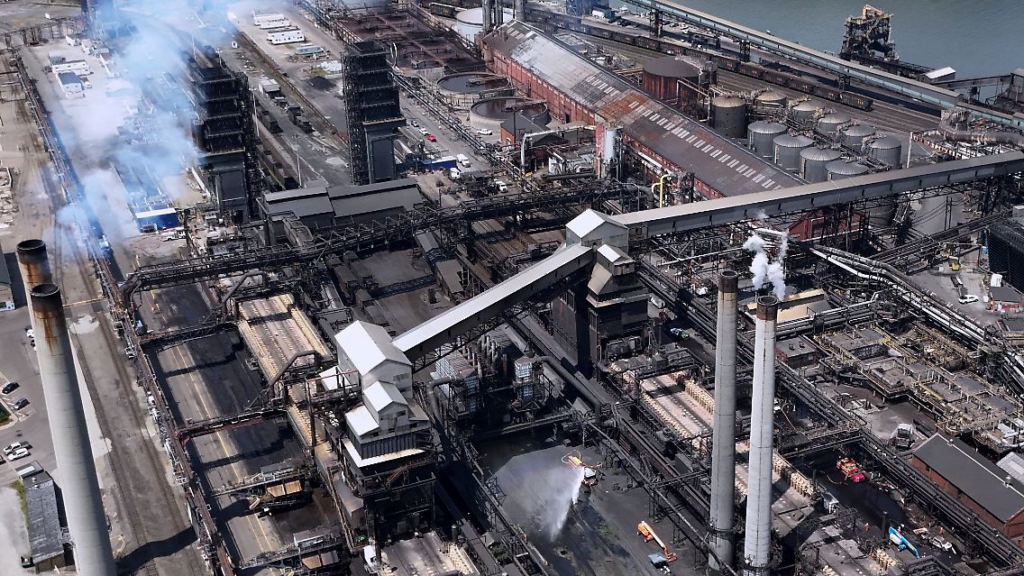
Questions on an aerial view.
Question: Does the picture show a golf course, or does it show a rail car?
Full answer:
There is a rail car in the scene.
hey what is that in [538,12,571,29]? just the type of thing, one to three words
rail car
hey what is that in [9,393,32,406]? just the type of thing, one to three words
vehicle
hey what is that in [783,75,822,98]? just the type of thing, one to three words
rail car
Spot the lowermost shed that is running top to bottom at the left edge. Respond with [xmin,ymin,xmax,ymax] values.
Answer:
[24,482,66,576]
